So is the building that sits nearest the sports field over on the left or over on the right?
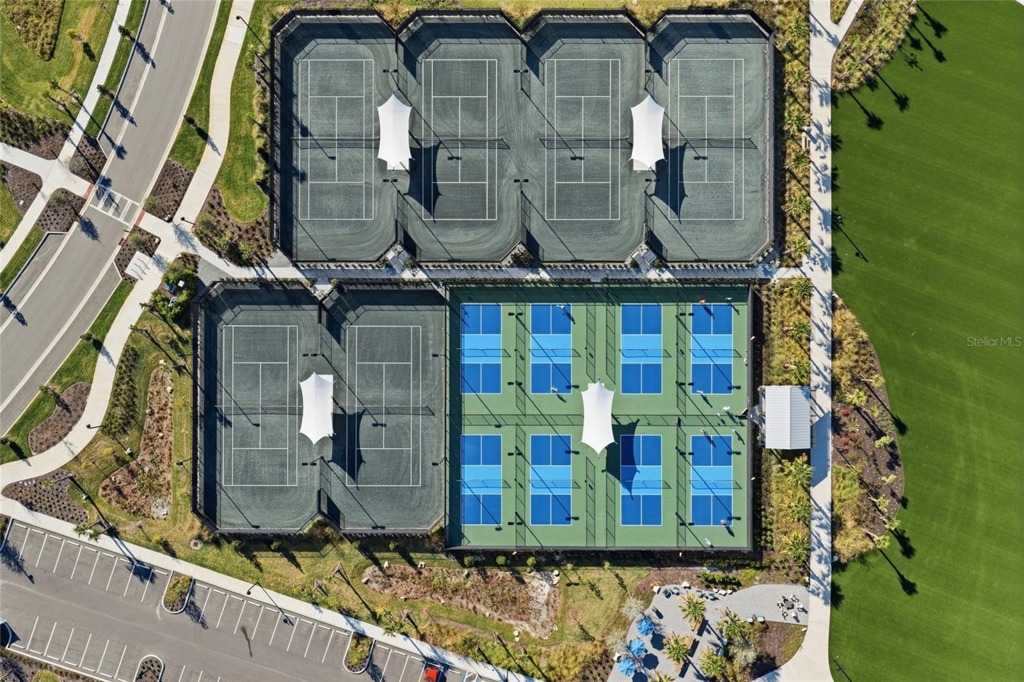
right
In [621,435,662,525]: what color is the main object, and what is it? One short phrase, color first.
blue sports court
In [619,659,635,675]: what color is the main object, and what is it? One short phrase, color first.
blue umbrella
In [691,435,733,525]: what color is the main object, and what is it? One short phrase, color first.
blue sports court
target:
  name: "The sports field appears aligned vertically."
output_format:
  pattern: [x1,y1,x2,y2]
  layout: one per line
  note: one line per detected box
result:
[831,0,1024,682]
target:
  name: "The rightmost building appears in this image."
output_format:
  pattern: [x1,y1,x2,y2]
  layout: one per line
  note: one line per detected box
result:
[763,386,810,451]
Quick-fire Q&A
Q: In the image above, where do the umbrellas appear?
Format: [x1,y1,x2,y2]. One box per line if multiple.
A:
[629,639,645,654]
[619,659,635,675]
[637,619,654,635]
